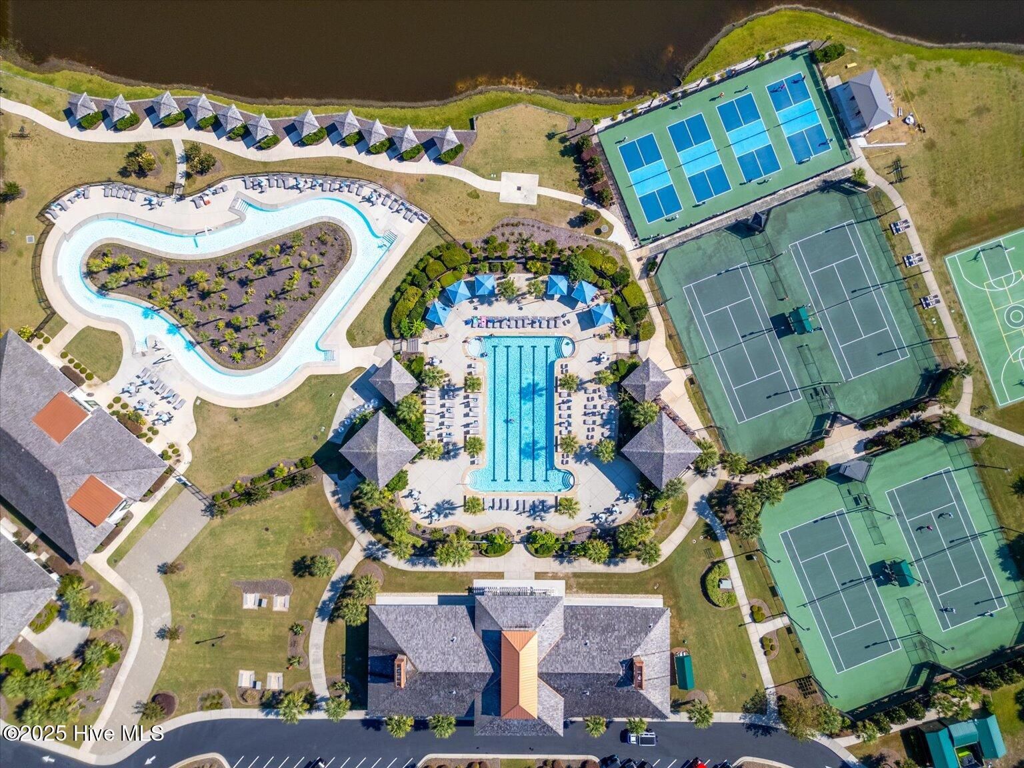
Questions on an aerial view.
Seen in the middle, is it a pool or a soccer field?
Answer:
pool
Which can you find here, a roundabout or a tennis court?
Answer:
tennis court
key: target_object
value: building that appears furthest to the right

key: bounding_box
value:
[918,709,1007,768]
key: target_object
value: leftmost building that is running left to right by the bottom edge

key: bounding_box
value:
[368,594,670,736]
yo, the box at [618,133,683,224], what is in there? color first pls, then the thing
blue sports court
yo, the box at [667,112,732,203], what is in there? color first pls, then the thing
blue sports court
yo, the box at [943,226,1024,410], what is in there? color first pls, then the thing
green basketball court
